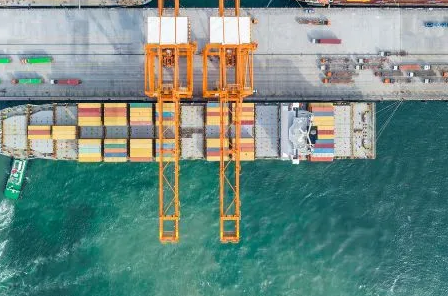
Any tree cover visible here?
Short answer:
No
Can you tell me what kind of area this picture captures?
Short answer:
port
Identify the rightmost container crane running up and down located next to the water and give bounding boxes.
[195,0,258,244]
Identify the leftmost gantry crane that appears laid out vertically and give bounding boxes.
[142,0,199,244]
